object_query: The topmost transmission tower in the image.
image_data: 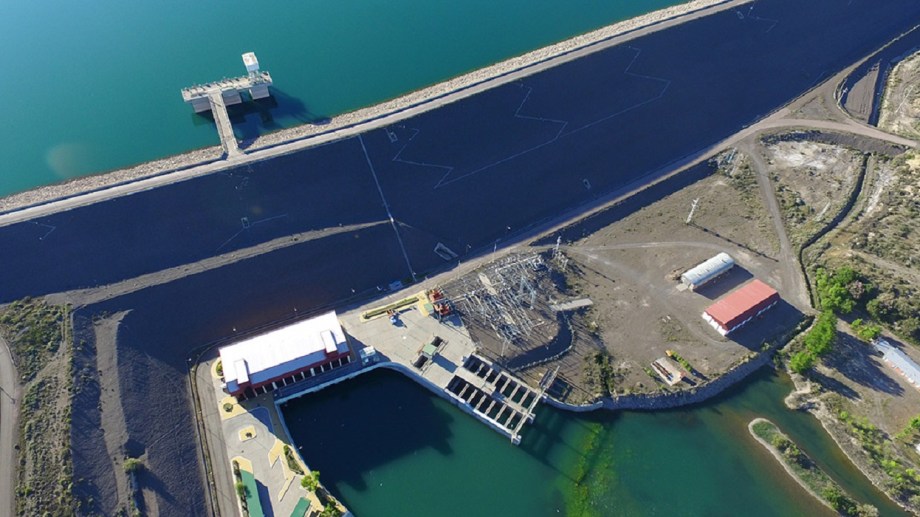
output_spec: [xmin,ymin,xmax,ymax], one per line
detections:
[684,197,699,225]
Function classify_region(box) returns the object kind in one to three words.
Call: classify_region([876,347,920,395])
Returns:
house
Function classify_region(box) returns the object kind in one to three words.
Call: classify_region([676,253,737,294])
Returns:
shed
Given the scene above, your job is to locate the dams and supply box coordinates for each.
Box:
[0,0,920,369]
